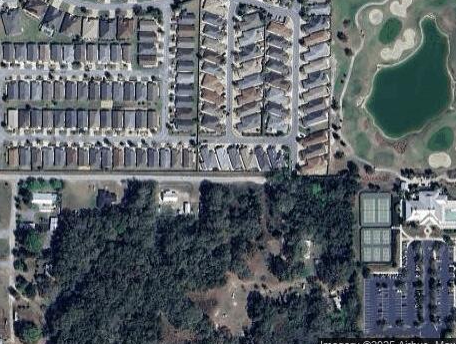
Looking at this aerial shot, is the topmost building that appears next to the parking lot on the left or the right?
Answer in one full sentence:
The topmost building that appears next to the parking lot sits on the right side.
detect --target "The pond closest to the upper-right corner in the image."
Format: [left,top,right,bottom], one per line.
[366,18,453,138]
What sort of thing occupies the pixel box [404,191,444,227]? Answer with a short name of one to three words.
building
